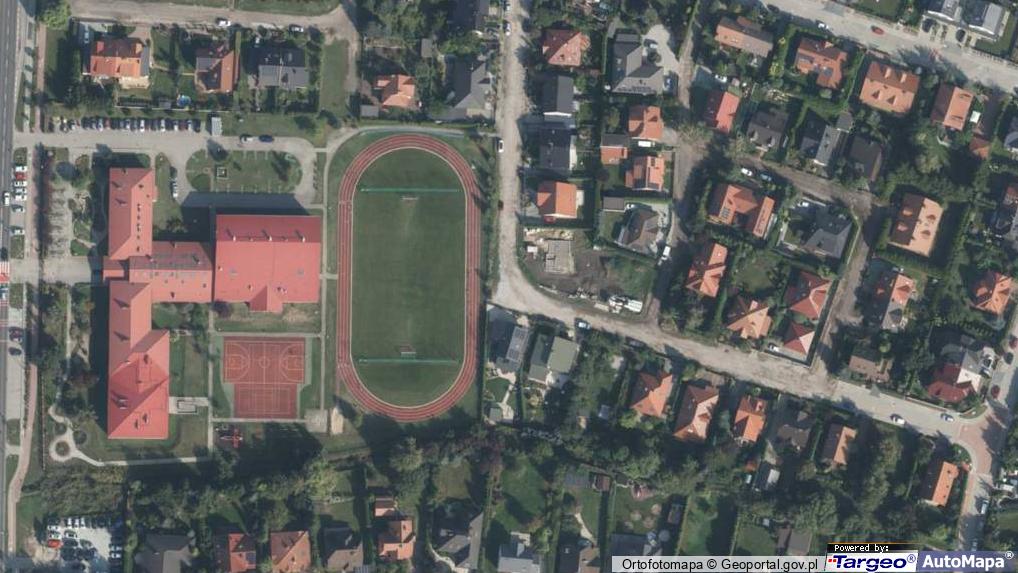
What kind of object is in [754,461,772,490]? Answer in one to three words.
building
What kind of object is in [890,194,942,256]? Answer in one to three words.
house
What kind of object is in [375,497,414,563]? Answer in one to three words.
house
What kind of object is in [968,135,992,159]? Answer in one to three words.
shed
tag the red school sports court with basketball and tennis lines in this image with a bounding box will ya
[219,336,311,419]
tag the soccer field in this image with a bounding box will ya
[353,148,466,408]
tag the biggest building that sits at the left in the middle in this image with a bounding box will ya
[102,168,215,439]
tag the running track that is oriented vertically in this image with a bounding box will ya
[337,132,481,423]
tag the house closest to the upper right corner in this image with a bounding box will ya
[961,0,1007,41]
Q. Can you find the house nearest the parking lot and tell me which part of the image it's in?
bottom left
